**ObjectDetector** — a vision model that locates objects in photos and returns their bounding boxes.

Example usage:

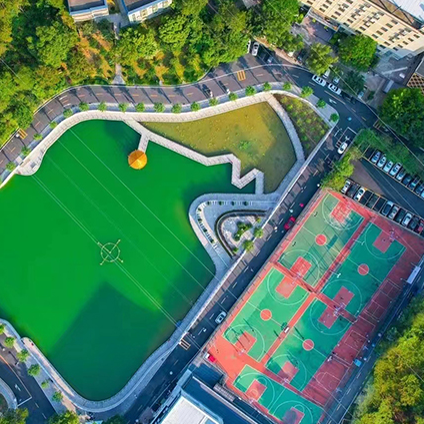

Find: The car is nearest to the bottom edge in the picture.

[214,309,227,324]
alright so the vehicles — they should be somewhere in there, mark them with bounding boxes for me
[393,208,404,223]
[311,74,326,86]
[354,187,365,201]
[414,180,424,195]
[415,219,424,234]
[340,179,351,194]
[401,173,412,187]
[362,191,373,206]
[214,309,227,324]
[330,72,341,85]
[381,159,393,173]
[408,176,420,191]
[387,205,399,220]
[347,182,358,197]
[321,70,330,80]
[326,82,341,93]
[251,41,259,56]
[388,162,400,177]
[381,201,393,216]
[369,149,381,165]
[283,215,296,230]
[264,52,275,66]
[408,216,419,230]
[400,212,412,227]
[375,154,387,169]
[336,141,348,155]
[337,89,352,102]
